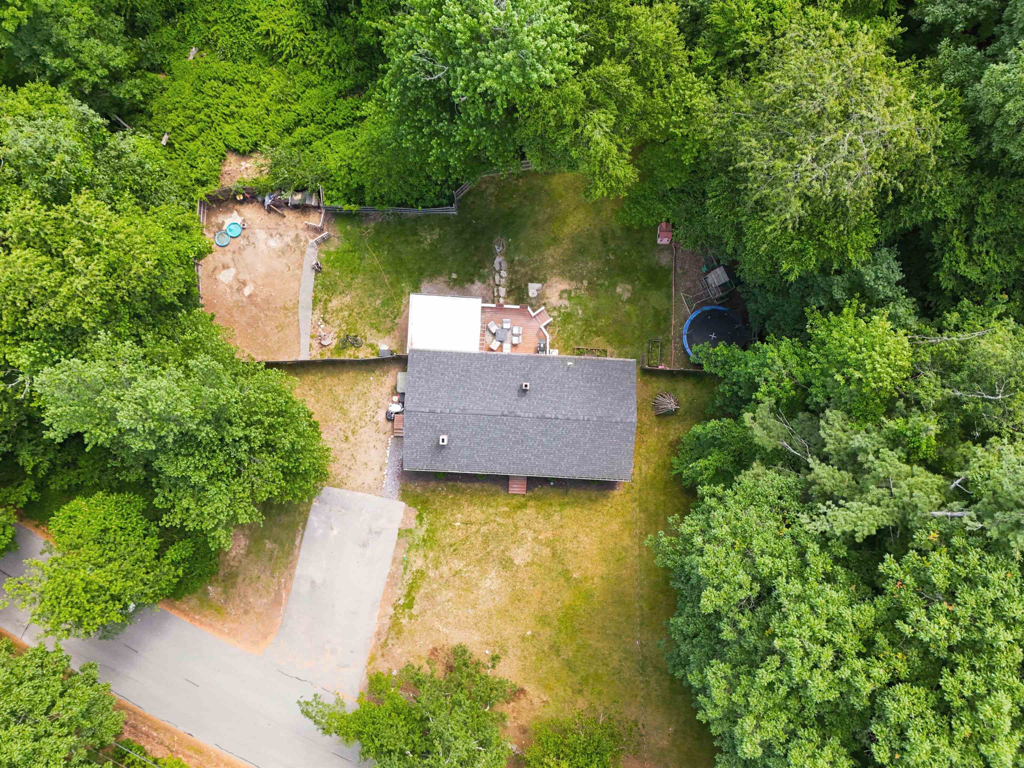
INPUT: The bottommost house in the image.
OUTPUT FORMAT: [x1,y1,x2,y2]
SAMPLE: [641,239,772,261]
[403,347,636,482]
